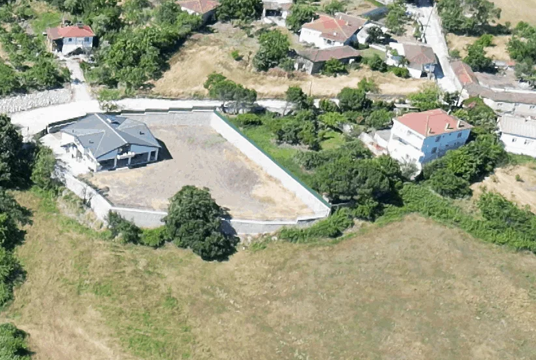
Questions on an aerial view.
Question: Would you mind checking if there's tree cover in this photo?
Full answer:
Yes, there's tree cover in this view.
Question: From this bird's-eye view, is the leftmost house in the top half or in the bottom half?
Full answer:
It is in the top half that the leftmost house appears.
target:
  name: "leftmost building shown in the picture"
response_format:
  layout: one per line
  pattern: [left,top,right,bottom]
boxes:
[46,16,99,56]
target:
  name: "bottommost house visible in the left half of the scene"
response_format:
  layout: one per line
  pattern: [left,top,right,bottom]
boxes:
[55,113,165,174]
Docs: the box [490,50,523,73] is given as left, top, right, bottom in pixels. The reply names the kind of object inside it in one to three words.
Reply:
shed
